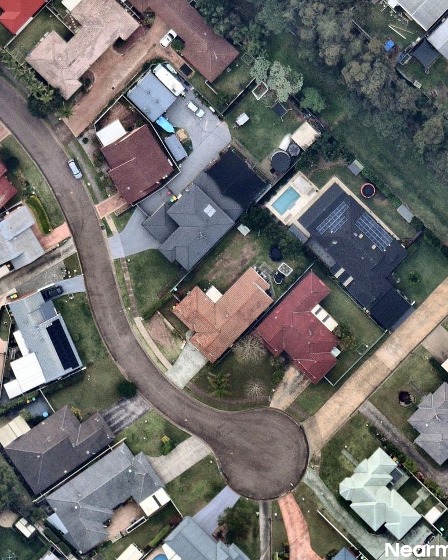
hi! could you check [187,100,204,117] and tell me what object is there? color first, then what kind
white vehicle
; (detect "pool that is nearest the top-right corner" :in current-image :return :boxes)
[271,186,302,217]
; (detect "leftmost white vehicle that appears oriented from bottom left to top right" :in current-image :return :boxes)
[159,29,176,49]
